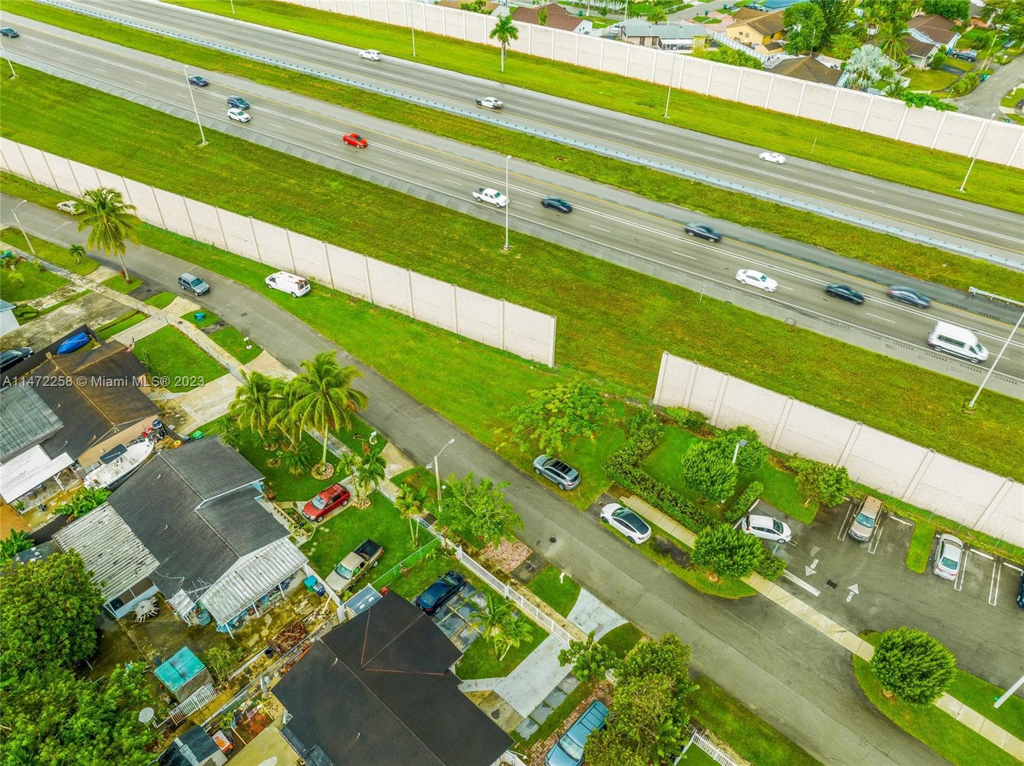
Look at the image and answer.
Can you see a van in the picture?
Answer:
Yes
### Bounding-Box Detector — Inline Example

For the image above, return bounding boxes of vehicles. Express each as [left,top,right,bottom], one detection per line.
[174,270,213,297]
[407,566,472,615]
[544,694,612,766]
[225,95,251,110]
[930,531,967,583]
[735,271,777,293]
[296,481,356,524]
[529,455,585,490]
[477,98,503,110]
[845,495,887,543]
[186,75,211,88]
[822,284,866,307]
[226,108,251,123]
[885,287,931,310]
[952,49,977,62]
[926,321,991,363]
[359,51,381,61]
[319,537,392,596]
[756,152,789,166]
[340,134,369,149]
[0,28,19,38]
[596,502,656,546]
[53,200,89,216]
[684,224,722,243]
[539,197,574,215]
[264,271,313,298]
[471,188,510,208]
[739,513,795,545]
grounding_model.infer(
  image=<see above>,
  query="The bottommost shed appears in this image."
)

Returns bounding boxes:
[150,725,226,766]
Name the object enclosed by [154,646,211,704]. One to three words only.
shed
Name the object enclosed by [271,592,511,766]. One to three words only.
house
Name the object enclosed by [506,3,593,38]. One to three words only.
house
